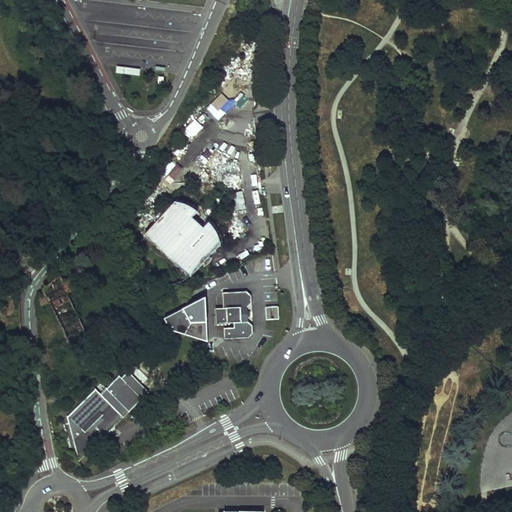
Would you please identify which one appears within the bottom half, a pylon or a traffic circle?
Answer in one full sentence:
The feature located within the bottom half is a traffic circle.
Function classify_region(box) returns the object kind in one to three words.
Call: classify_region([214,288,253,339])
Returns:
building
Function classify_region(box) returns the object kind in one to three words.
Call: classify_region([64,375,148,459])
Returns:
building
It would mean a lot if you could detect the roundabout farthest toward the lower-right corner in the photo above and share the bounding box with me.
[258,323,378,460]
